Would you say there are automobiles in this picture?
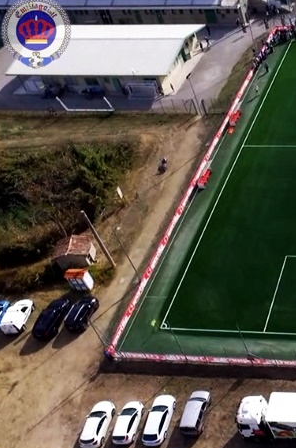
Yes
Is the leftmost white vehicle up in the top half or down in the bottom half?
bottom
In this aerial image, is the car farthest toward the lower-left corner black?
No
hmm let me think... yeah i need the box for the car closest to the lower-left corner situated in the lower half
[77,402,116,448]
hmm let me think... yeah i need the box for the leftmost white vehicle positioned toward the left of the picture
[0,301,34,335]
